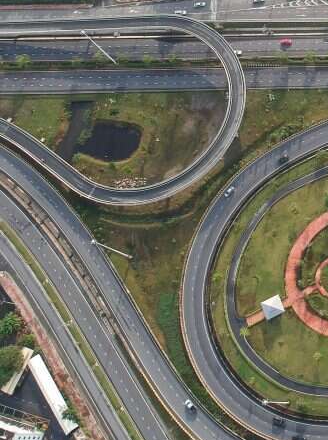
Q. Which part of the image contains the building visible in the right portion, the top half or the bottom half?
bottom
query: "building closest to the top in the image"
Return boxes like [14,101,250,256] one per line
[261,294,285,320]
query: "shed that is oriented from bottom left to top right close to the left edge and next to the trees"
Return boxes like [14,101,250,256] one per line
[1,348,37,394]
